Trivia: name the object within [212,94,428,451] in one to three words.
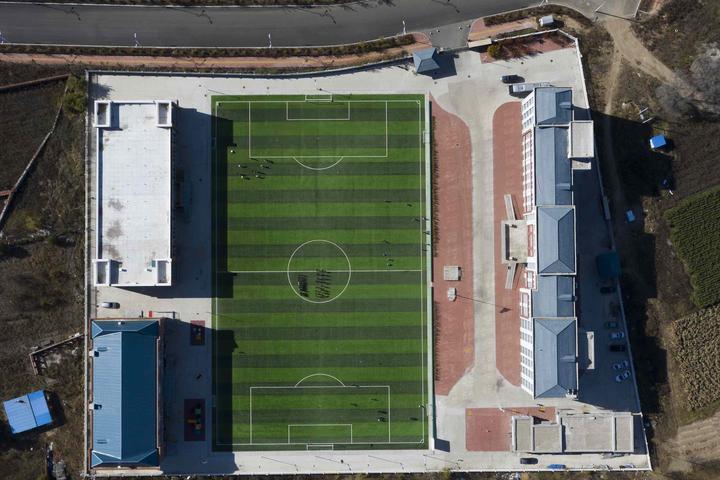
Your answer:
soccer field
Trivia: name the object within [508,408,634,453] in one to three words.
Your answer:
building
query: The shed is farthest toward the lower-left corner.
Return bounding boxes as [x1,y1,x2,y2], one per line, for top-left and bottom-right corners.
[4,390,54,433]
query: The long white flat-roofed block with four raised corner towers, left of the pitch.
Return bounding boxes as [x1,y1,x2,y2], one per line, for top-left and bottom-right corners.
[94,100,190,286]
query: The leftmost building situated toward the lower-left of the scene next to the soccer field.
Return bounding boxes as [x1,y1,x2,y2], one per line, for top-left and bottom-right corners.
[89,314,172,470]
